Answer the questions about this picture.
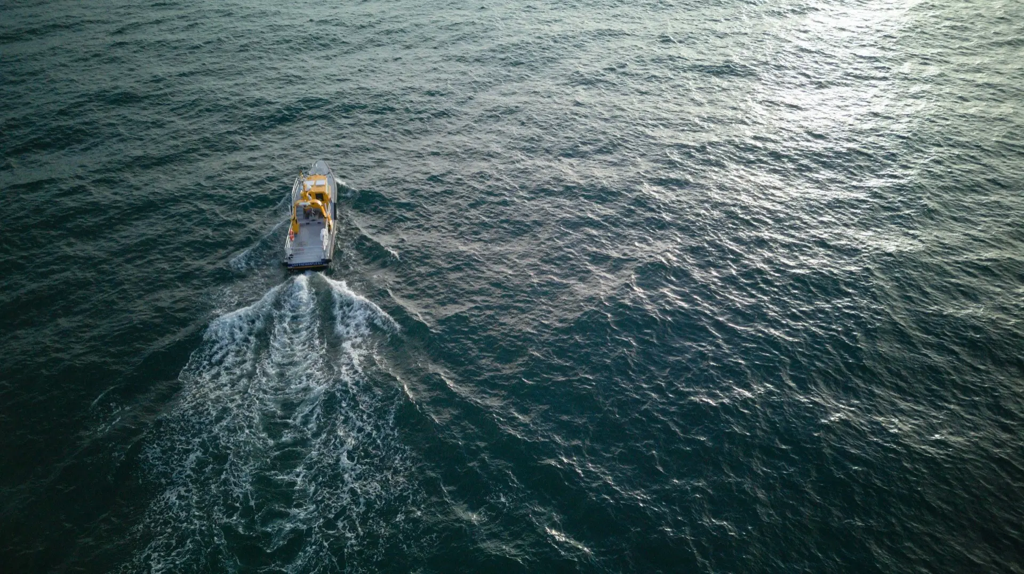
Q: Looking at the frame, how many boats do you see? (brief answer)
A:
one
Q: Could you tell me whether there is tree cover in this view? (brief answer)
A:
No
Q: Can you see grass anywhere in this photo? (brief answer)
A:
No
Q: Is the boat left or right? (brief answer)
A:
left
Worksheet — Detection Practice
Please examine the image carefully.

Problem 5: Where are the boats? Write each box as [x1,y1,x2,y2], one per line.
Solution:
[281,161,339,272]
